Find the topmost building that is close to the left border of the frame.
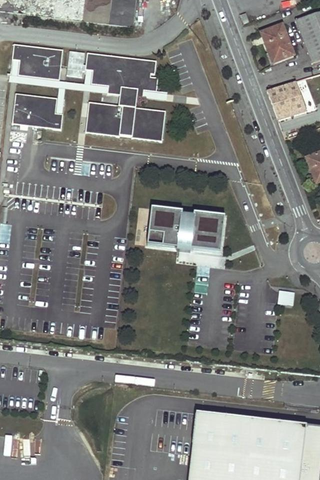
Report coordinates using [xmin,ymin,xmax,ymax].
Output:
[12,45,64,81]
